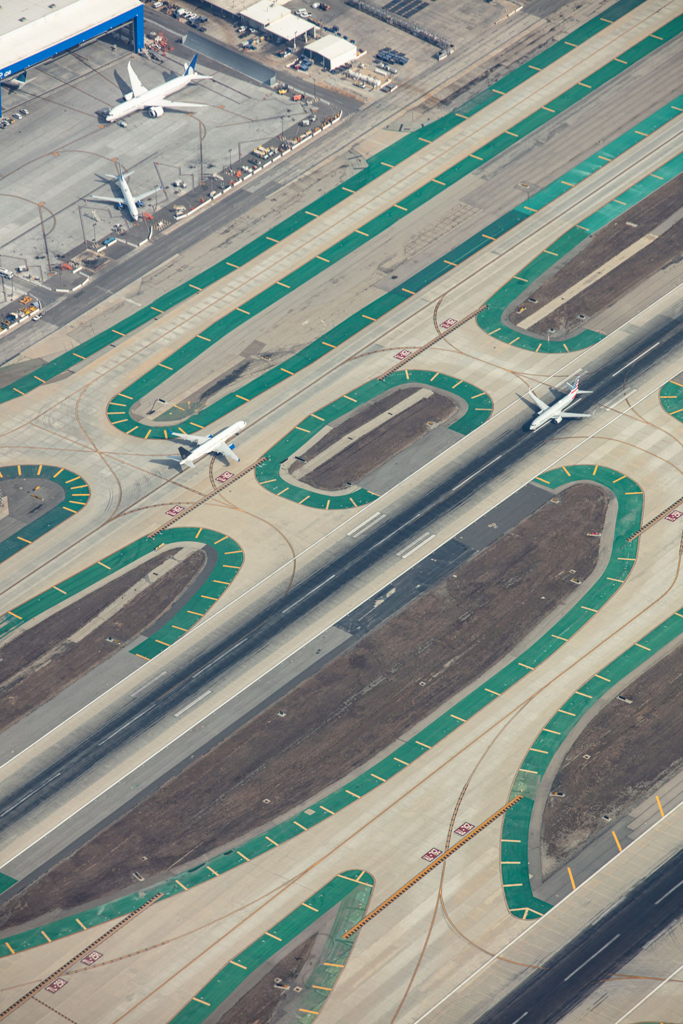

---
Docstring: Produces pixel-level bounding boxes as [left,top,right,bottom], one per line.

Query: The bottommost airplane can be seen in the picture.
[167,423,246,469]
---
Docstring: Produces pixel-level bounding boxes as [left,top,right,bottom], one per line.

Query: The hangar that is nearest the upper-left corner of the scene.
[0,0,145,119]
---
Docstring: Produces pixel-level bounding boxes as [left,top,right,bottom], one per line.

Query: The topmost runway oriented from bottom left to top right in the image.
[0,284,683,866]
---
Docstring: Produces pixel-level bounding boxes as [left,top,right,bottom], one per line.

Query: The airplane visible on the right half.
[528,371,594,430]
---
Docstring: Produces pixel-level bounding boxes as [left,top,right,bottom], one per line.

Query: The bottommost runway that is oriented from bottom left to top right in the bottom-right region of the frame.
[417,810,683,1024]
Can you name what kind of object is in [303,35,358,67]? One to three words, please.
shed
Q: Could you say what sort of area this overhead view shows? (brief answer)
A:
airport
